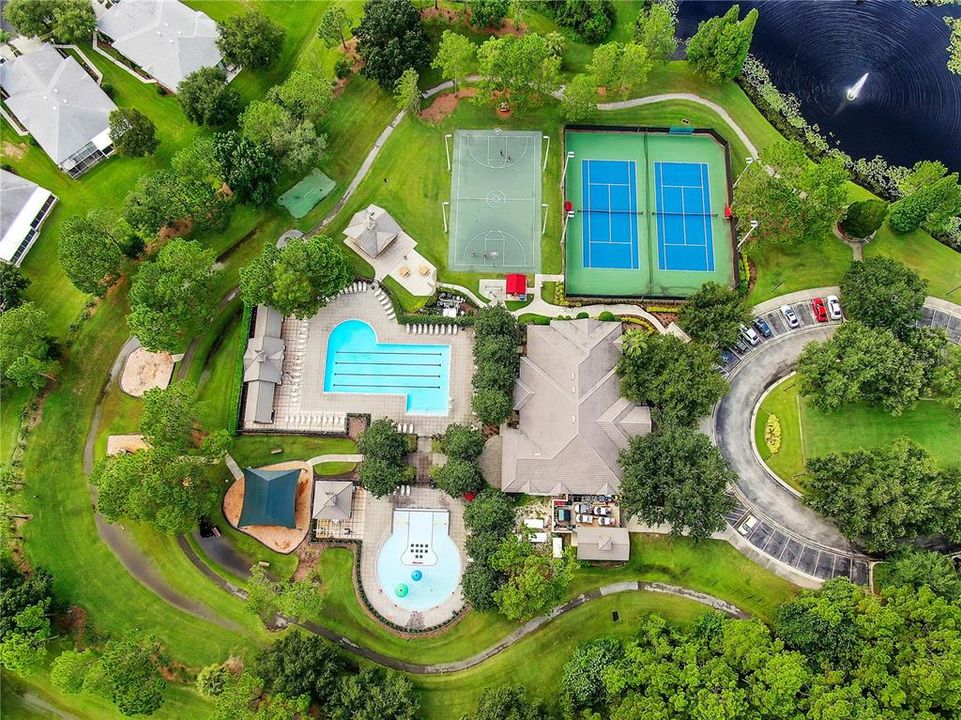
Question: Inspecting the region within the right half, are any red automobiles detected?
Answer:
Yes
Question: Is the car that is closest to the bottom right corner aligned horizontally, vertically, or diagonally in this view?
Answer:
diagonally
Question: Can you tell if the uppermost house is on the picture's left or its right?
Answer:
left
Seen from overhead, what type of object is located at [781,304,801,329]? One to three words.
car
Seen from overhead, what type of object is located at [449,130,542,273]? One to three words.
basketball court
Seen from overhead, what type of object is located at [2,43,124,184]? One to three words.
house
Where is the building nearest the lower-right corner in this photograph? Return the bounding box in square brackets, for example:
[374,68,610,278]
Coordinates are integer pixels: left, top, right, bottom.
[571,528,630,560]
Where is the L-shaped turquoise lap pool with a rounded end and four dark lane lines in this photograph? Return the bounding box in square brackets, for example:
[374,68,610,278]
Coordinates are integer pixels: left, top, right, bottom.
[322,317,452,416]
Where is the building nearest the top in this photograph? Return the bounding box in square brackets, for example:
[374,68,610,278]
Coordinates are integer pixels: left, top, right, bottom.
[98,0,221,97]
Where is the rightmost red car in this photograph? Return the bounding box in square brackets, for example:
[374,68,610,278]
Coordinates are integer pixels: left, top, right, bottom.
[810,298,830,322]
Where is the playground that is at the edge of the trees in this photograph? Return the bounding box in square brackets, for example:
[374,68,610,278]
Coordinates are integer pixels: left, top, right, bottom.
[222,459,313,555]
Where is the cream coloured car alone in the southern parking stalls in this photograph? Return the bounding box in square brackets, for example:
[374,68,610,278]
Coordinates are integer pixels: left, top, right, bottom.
[737,512,760,536]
